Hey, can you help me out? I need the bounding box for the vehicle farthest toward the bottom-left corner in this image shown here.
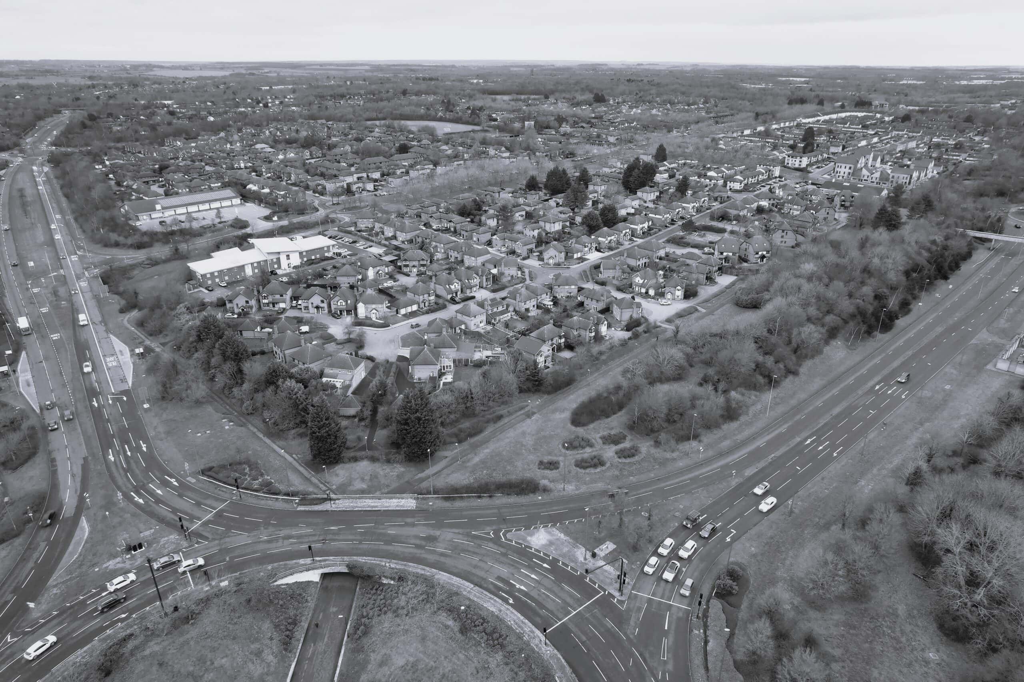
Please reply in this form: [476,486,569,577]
[20,634,60,661]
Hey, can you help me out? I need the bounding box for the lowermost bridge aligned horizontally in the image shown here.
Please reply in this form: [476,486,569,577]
[271,570,399,591]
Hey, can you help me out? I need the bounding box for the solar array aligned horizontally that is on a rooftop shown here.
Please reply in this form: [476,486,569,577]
[163,192,234,207]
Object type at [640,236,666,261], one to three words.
house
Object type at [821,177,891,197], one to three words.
building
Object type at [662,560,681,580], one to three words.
car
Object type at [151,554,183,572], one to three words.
car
